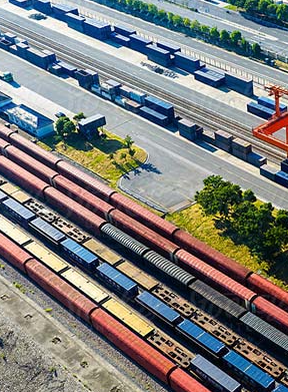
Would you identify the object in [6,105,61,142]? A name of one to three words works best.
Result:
house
